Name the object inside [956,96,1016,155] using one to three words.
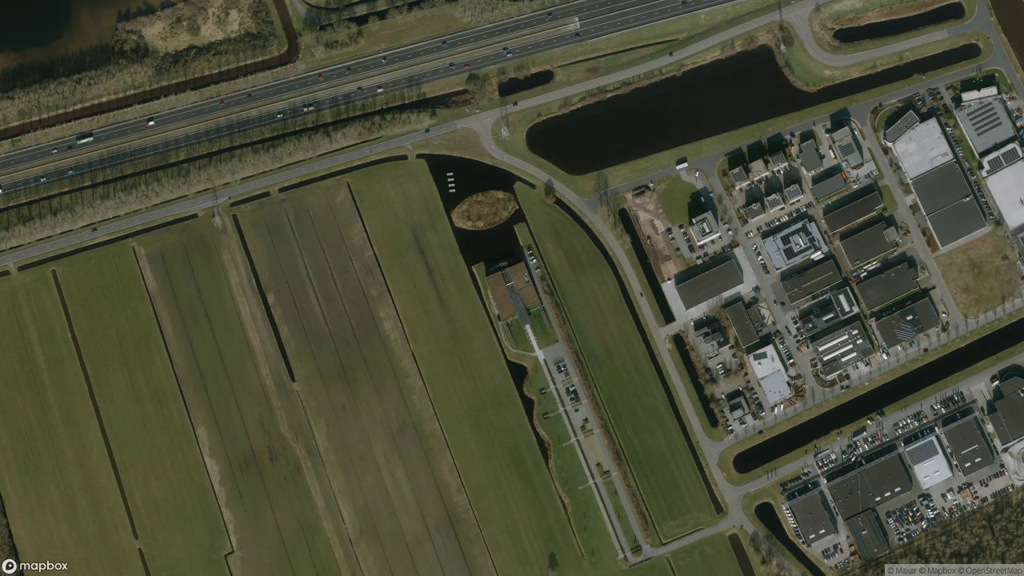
building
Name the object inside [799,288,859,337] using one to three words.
building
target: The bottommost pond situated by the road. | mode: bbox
[416,154,702,558]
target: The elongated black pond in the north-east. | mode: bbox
[833,1,965,43]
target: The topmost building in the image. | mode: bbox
[961,86,998,103]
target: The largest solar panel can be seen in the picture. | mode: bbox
[907,439,939,466]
